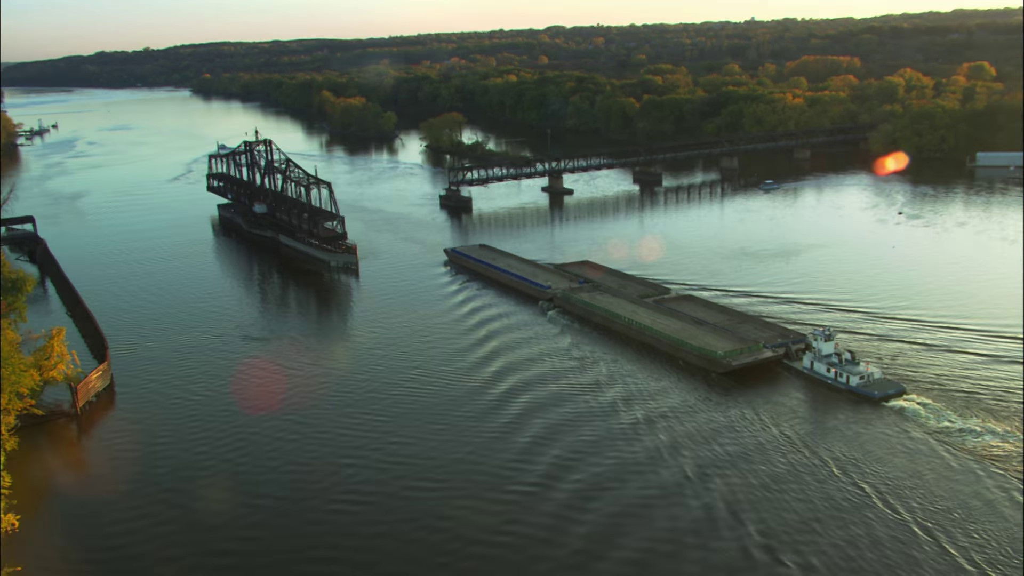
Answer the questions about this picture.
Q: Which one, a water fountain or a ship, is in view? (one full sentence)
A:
There is a ship in the scene.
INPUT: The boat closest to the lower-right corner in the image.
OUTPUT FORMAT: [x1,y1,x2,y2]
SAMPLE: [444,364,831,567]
[789,326,904,401]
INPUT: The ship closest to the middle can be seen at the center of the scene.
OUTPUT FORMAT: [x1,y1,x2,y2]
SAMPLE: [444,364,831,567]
[442,243,587,306]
